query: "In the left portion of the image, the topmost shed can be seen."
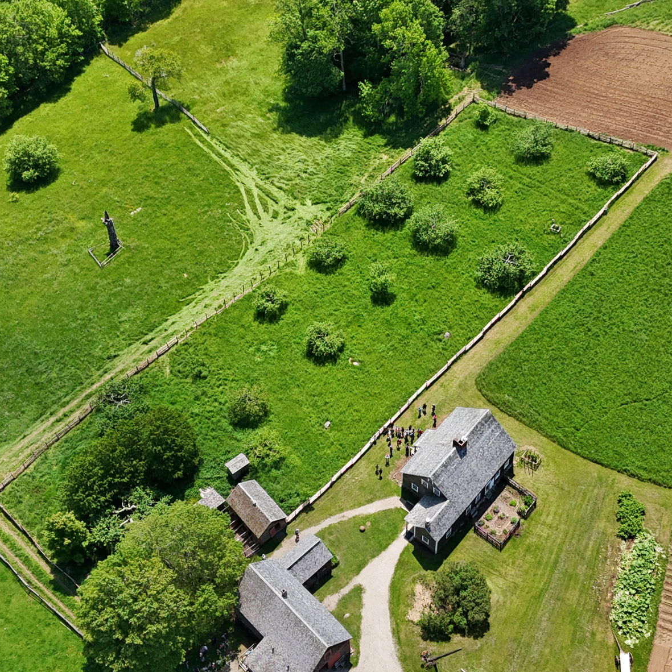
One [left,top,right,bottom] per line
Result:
[224,454,250,482]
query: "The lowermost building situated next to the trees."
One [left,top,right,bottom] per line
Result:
[232,534,353,672]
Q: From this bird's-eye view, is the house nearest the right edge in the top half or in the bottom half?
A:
bottom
